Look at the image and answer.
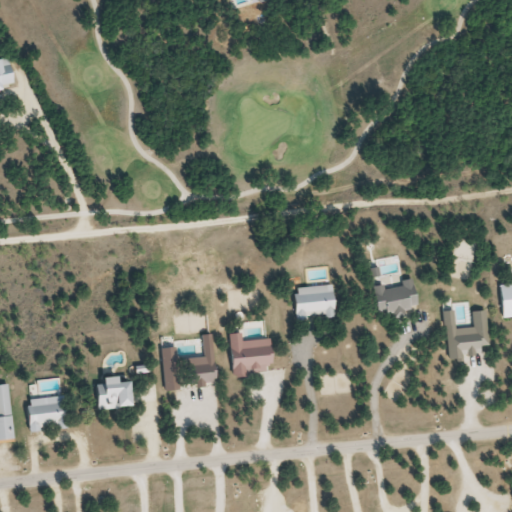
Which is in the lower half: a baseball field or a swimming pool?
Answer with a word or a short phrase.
swimming pool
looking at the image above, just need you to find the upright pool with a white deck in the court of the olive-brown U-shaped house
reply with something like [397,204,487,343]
[451,302,471,326]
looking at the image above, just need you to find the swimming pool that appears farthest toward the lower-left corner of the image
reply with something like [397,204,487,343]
[29,378,60,396]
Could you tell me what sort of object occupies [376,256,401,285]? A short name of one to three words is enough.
swimming pool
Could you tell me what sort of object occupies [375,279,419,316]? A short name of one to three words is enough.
house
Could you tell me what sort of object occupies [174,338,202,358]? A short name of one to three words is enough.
swimming pool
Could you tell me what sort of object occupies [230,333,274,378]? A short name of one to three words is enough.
house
